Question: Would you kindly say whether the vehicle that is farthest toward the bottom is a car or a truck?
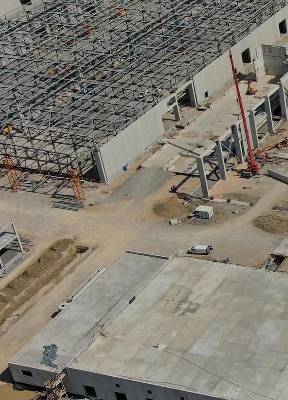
truck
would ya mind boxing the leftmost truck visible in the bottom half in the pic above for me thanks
[49,264,105,313]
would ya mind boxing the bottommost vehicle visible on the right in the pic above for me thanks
[188,244,211,256]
